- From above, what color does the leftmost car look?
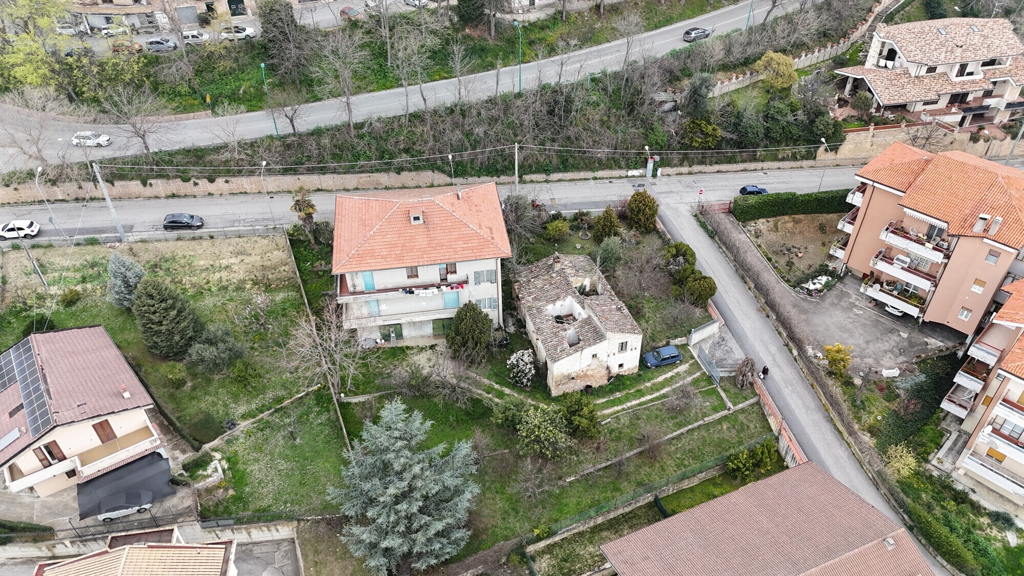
white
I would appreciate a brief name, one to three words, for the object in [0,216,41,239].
car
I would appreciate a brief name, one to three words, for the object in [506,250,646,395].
house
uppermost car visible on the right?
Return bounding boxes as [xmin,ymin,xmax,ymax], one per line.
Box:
[681,24,713,40]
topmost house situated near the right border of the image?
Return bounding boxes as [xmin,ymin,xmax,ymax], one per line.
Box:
[822,1,1024,127]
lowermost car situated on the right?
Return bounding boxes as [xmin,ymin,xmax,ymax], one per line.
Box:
[642,340,685,367]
